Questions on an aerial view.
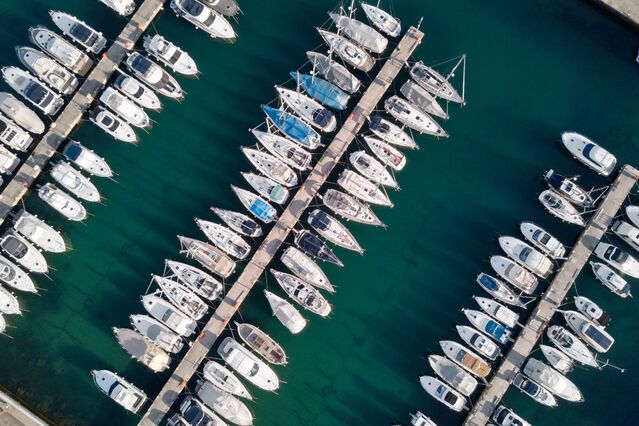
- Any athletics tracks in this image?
No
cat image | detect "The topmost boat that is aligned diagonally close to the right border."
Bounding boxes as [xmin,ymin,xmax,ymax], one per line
[559,133,623,179]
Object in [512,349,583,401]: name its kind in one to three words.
boat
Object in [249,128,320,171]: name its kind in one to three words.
boat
